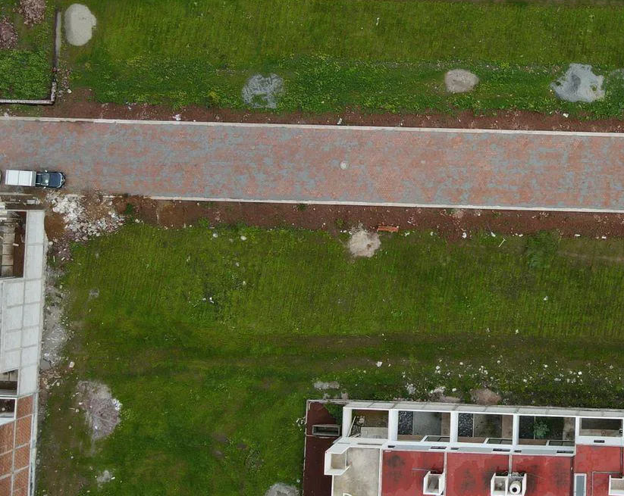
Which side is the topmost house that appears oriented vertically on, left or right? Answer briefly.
left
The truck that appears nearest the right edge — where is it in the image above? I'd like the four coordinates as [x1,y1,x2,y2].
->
[5,168,67,191]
